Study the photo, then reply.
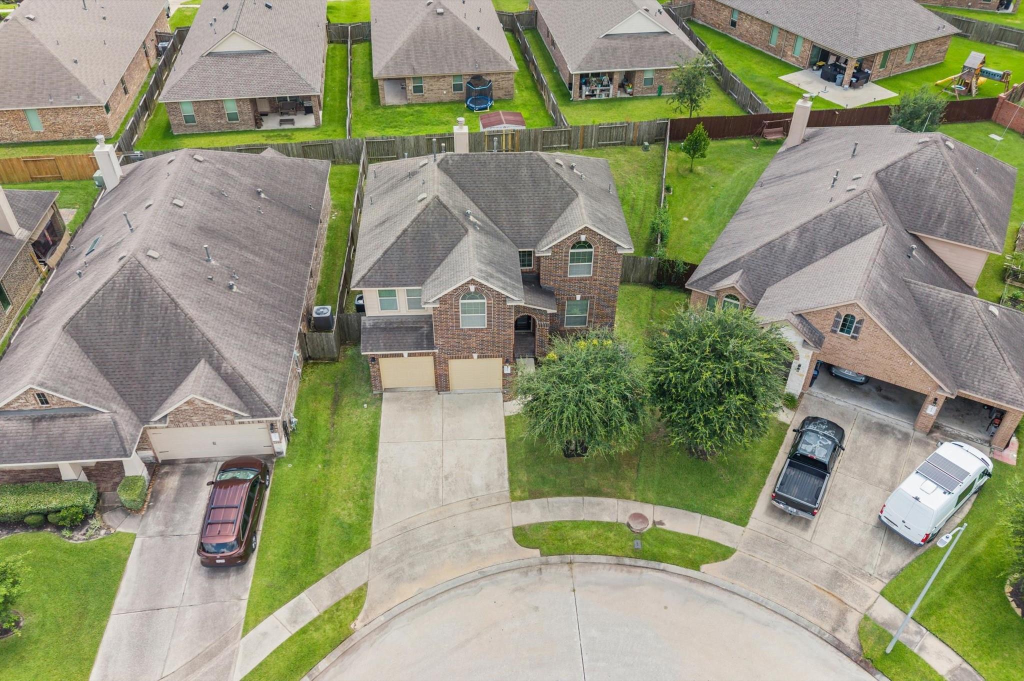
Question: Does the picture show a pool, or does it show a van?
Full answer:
There is a van in the scene.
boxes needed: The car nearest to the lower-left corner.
[199,454,272,567]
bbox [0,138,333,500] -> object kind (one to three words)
house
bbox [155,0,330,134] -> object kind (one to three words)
house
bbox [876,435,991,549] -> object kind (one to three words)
van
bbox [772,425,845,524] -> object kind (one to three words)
truck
